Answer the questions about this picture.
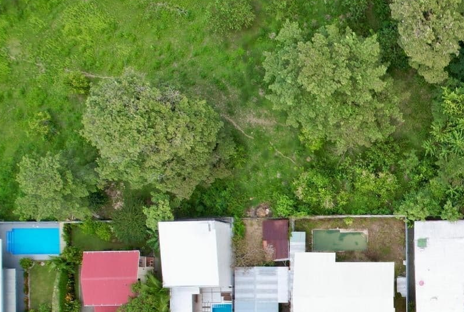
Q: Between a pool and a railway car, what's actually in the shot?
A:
pool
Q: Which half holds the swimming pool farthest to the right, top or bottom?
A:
bottom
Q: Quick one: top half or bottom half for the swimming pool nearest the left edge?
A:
bottom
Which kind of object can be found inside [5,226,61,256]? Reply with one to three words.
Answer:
swimming pool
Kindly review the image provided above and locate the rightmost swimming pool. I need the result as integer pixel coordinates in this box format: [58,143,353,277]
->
[311,228,369,253]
